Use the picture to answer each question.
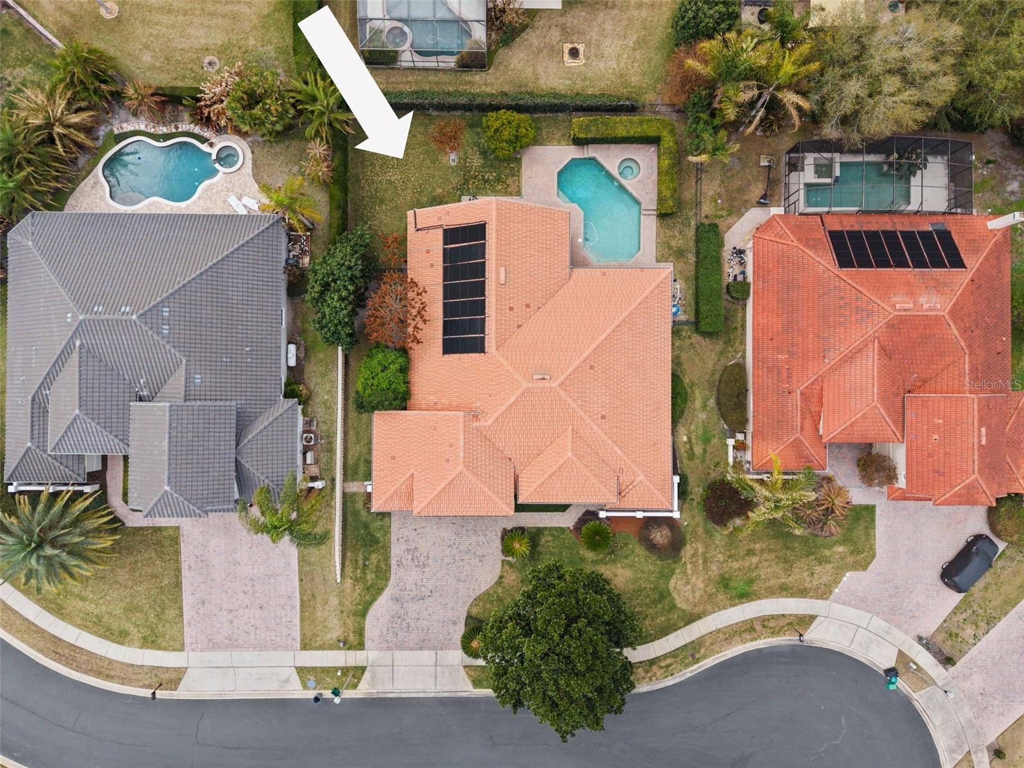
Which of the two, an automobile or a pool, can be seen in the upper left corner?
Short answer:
pool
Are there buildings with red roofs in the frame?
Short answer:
Yes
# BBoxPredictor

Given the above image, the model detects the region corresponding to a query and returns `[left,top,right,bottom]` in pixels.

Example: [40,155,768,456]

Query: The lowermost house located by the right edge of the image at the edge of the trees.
[747,204,1024,508]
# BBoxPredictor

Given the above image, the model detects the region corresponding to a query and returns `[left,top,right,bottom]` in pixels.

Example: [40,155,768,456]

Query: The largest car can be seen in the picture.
[938,532,1001,595]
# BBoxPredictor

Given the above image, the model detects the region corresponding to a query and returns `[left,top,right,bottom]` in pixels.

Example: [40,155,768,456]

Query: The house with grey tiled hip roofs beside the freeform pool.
[1,210,301,520]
